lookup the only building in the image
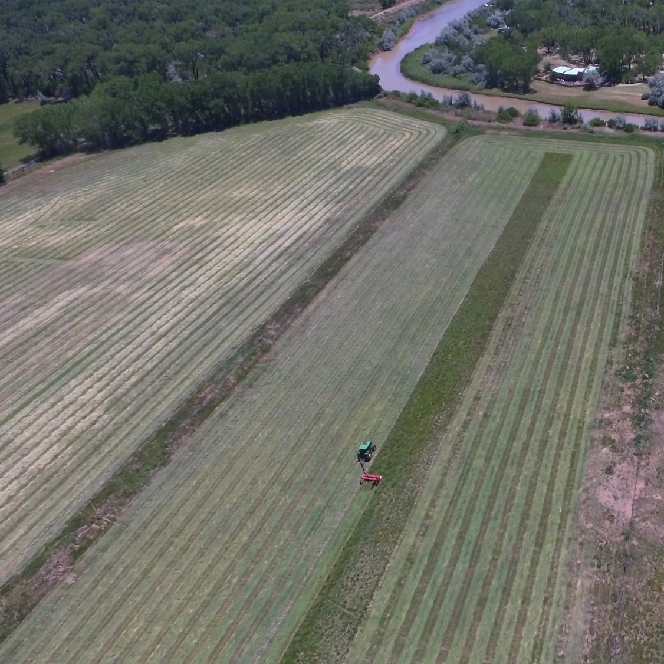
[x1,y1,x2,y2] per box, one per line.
[553,66,600,83]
